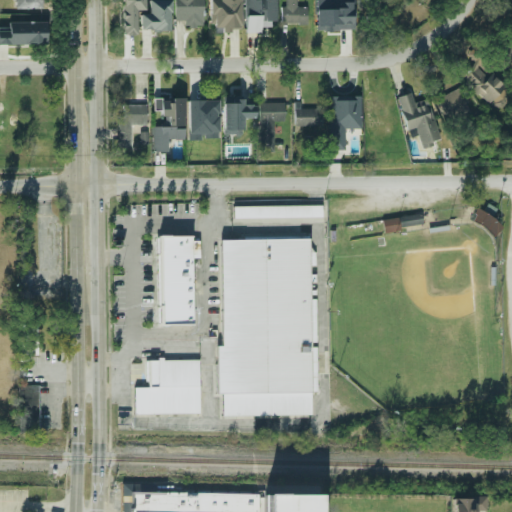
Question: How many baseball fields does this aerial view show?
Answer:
1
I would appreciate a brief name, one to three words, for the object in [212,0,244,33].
house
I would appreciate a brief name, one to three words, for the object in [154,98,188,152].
house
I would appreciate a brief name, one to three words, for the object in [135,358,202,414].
building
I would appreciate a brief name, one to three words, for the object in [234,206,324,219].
building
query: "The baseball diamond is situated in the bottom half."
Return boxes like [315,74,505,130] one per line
[330,226,500,409]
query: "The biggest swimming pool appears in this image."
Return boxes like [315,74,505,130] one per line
[226,144,252,158]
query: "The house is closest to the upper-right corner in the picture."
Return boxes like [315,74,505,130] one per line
[470,66,506,110]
